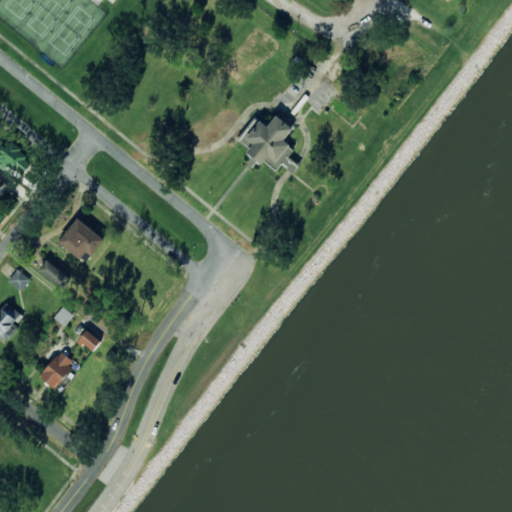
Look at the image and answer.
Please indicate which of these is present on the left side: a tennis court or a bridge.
tennis court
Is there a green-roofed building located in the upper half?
Yes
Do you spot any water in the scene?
Yes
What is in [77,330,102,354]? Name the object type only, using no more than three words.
building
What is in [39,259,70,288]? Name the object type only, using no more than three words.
house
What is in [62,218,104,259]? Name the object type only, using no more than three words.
house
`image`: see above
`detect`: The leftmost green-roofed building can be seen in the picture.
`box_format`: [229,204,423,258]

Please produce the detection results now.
[0,140,29,176]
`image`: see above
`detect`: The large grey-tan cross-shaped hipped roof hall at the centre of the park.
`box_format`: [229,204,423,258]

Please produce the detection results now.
[236,116,294,174]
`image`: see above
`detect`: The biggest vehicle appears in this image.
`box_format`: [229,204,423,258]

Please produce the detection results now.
[292,96,308,116]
